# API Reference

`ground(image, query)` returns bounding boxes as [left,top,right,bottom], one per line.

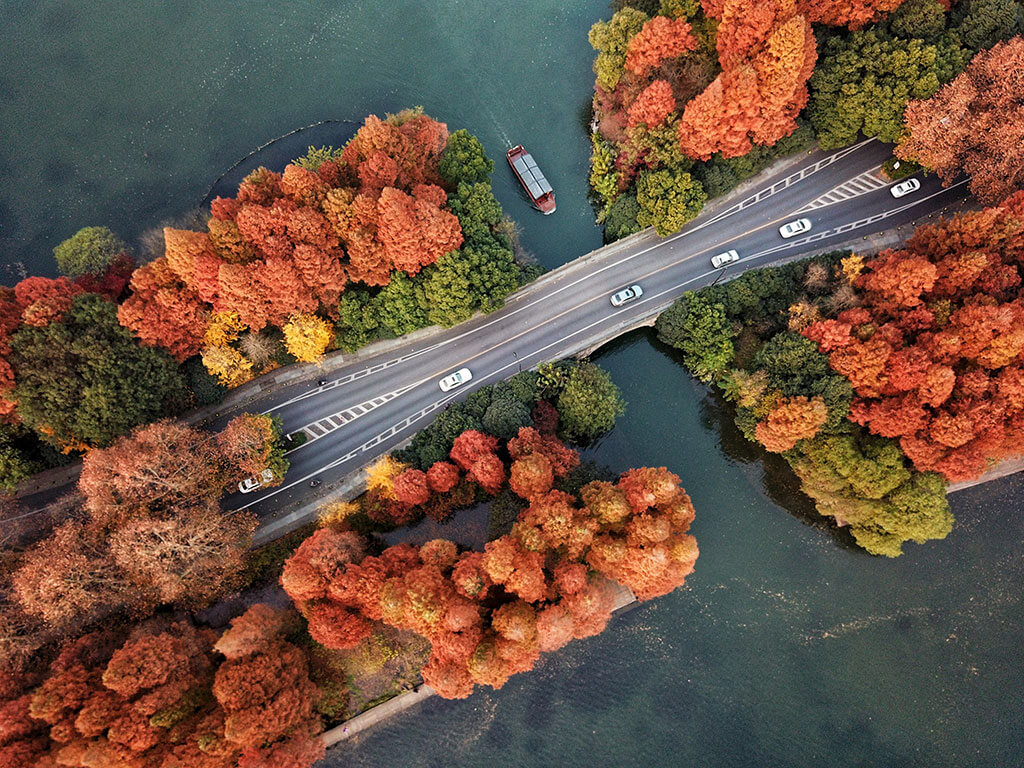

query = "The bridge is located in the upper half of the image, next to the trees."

[510,224,668,368]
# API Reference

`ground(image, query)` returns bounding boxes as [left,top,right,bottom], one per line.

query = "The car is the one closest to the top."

[891,175,924,197]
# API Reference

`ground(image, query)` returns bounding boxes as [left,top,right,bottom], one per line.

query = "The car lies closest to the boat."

[610,283,644,305]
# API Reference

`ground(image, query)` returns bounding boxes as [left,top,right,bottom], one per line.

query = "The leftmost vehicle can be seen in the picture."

[236,468,273,493]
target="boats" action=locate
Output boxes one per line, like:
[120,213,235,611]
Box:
[505,143,553,215]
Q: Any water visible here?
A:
Yes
